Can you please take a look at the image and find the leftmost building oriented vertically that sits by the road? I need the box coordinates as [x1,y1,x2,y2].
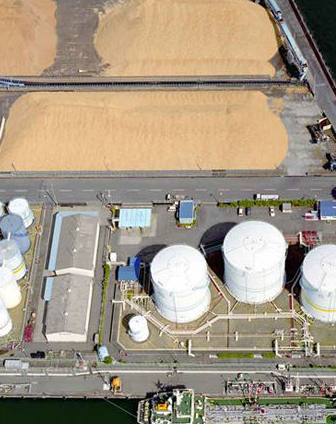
[44,210,99,342]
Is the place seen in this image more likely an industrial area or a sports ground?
industrial area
